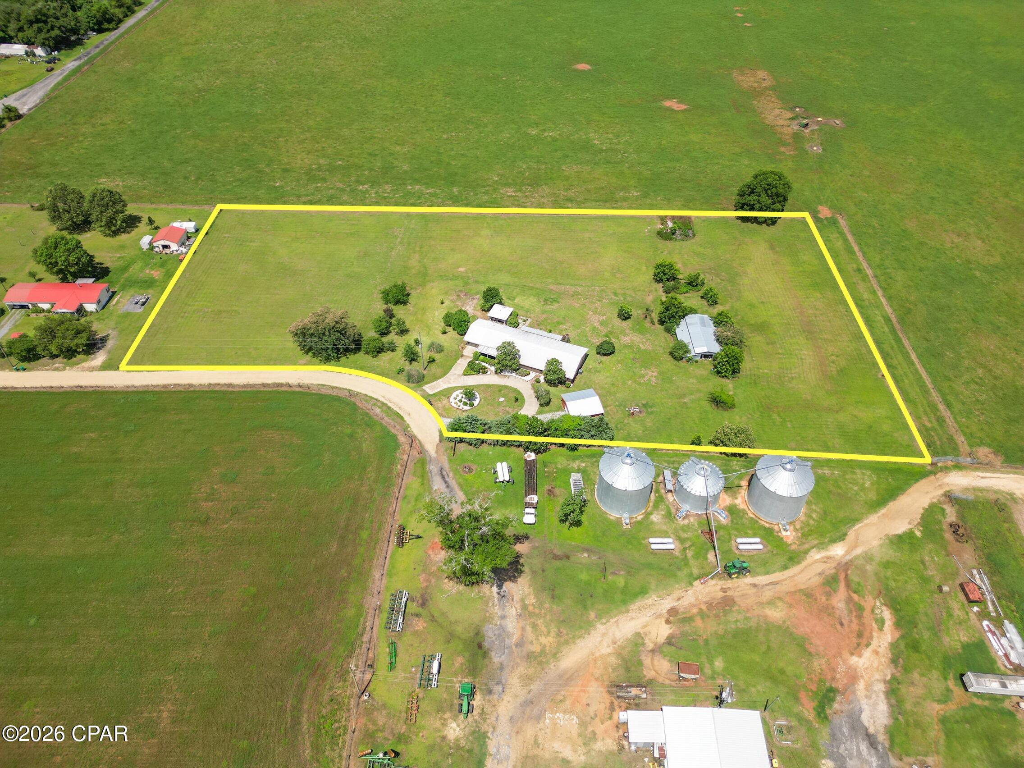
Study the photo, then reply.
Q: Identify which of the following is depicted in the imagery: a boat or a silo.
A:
silo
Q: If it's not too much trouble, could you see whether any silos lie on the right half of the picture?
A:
Yes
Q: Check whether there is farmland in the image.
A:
Yes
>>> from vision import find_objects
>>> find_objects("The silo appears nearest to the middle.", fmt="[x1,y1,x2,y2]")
[593,446,657,519]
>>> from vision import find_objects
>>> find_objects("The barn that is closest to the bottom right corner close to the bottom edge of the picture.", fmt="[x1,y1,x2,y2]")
[661,705,771,768]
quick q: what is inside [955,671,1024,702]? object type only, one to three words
trailer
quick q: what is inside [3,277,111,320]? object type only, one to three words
house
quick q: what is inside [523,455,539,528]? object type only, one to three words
vehicle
